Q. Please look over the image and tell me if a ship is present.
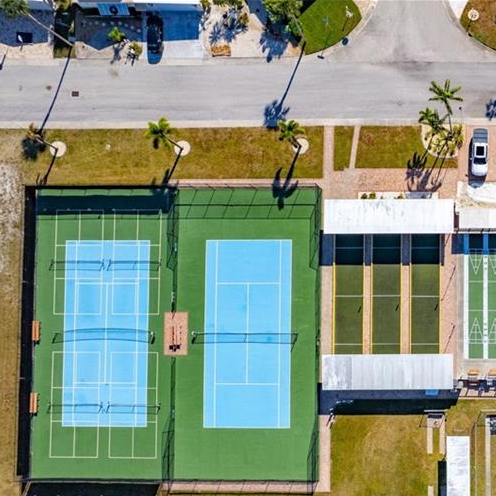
No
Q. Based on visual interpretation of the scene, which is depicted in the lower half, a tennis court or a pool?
tennis court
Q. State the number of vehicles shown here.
two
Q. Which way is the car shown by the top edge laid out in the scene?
up and down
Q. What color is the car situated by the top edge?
black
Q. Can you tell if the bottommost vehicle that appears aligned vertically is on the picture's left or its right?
right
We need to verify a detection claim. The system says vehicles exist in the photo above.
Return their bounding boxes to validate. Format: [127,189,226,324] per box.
[144,12,164,52]
[470,127,490,176]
